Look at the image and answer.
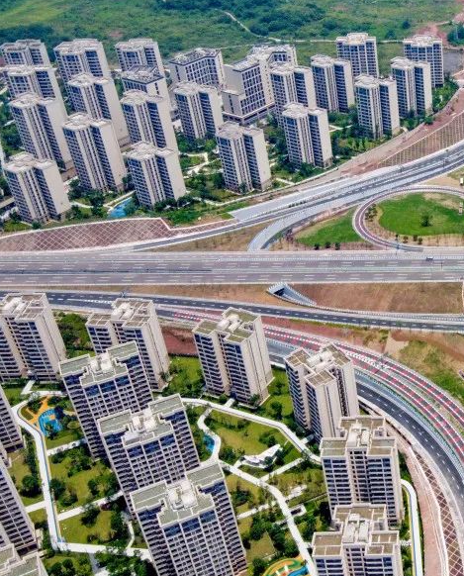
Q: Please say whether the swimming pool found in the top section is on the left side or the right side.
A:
left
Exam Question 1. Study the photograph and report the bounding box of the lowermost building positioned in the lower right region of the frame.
[312,512,406,576]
